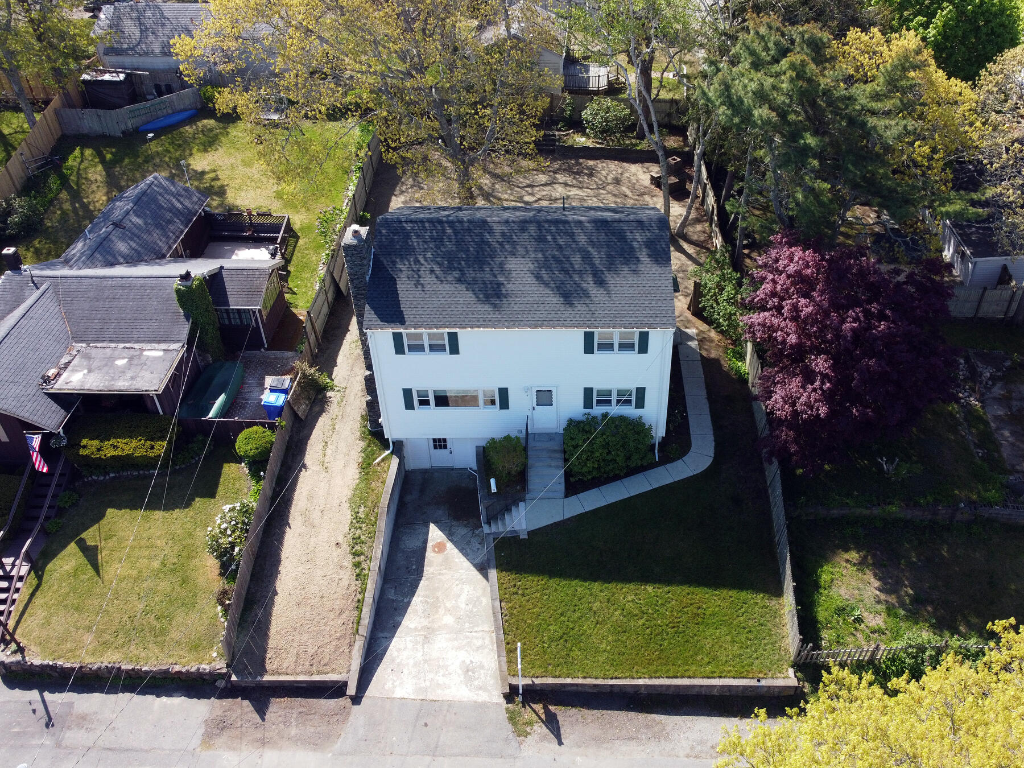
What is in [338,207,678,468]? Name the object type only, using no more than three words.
house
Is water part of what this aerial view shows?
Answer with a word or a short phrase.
No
